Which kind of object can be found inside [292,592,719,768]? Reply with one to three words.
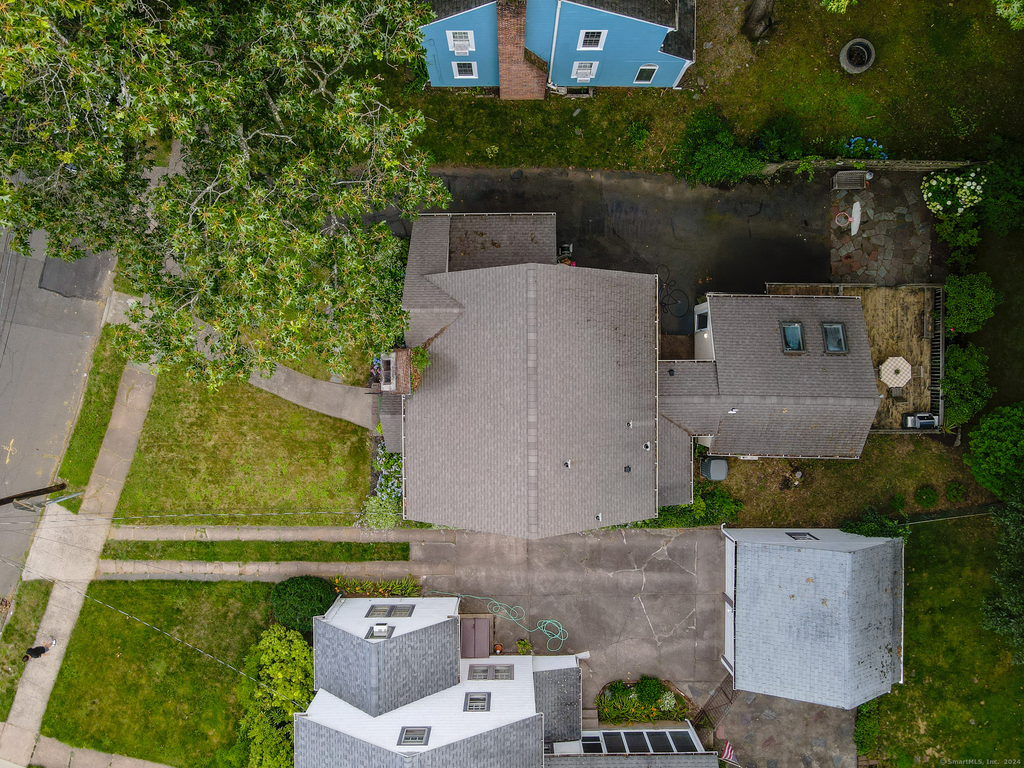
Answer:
house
